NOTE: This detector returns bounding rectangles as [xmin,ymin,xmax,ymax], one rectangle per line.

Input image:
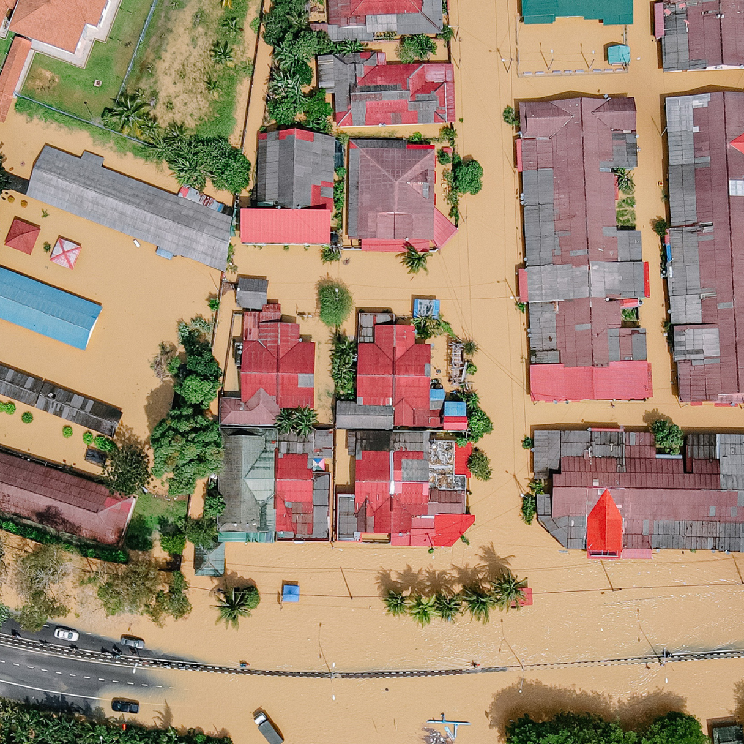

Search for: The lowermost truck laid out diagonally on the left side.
[255,710,284,744]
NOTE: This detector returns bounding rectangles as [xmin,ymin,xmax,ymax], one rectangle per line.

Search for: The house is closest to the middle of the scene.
[337,312,445,429]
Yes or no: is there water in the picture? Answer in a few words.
Yes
